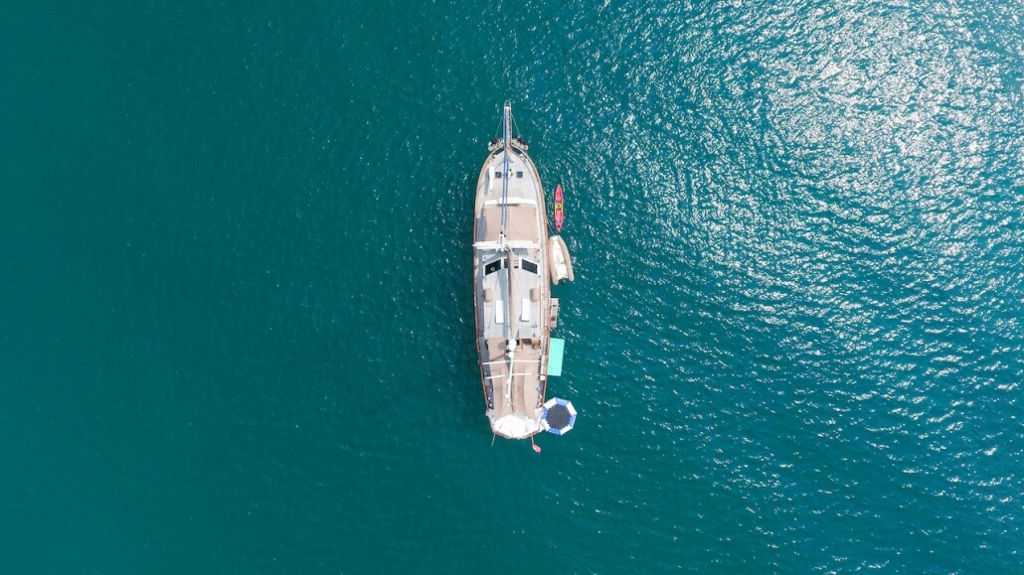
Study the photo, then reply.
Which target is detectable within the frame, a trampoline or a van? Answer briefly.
trampoline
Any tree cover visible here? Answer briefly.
No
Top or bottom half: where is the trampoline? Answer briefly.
bottom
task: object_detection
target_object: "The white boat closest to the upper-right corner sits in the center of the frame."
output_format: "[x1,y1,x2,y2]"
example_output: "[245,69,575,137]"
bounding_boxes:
[549,235,574,284]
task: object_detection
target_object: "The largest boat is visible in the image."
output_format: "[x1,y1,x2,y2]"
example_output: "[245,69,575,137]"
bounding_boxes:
[473,99,560,451]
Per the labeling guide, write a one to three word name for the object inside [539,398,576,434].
trampoline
